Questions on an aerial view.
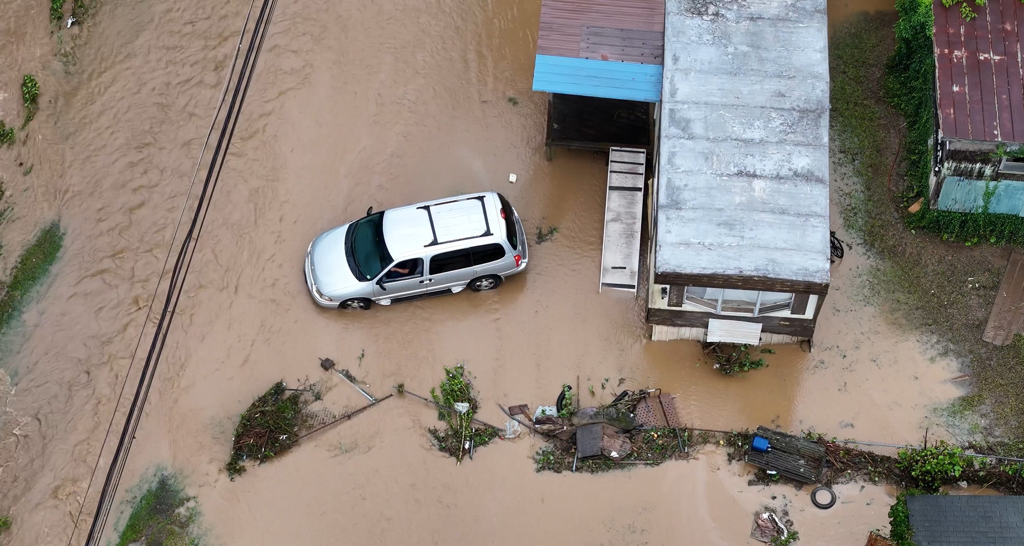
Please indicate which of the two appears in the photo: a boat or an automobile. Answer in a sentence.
I can see an automobile in this picture.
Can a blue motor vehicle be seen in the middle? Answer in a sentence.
No, looking in the middle, there is no blue motor vehicle.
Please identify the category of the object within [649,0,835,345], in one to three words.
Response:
house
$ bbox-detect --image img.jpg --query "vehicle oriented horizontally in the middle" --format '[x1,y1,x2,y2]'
[303,193,531,309]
